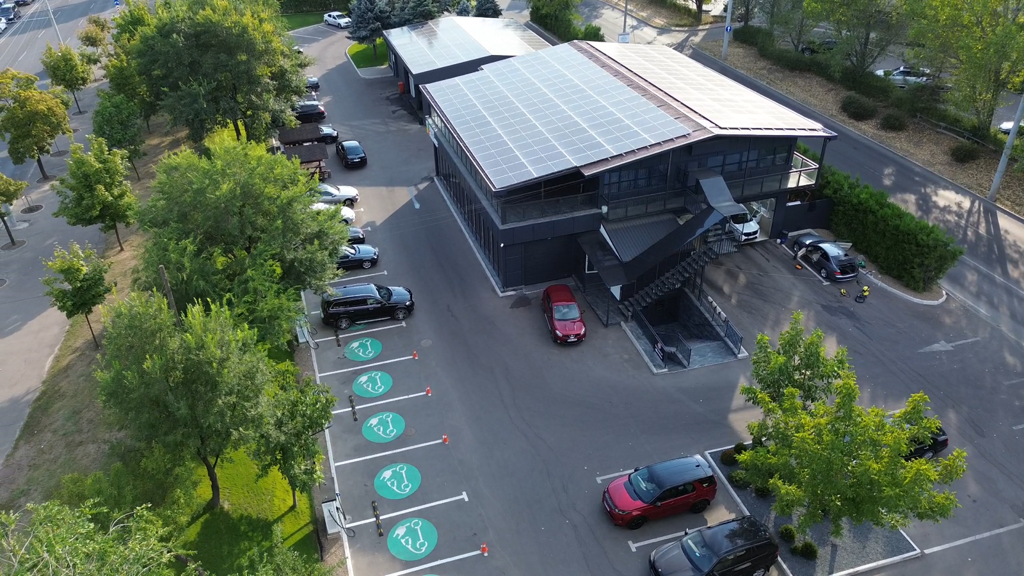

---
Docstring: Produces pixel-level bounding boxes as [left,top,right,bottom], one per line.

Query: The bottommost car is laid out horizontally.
[640,516,780,576]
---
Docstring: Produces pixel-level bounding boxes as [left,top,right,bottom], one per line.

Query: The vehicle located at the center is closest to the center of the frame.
[540,284,588,344]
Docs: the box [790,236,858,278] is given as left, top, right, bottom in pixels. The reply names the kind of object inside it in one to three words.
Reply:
car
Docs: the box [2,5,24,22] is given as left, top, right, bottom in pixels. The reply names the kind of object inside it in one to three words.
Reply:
car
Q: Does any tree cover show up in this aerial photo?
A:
Yes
